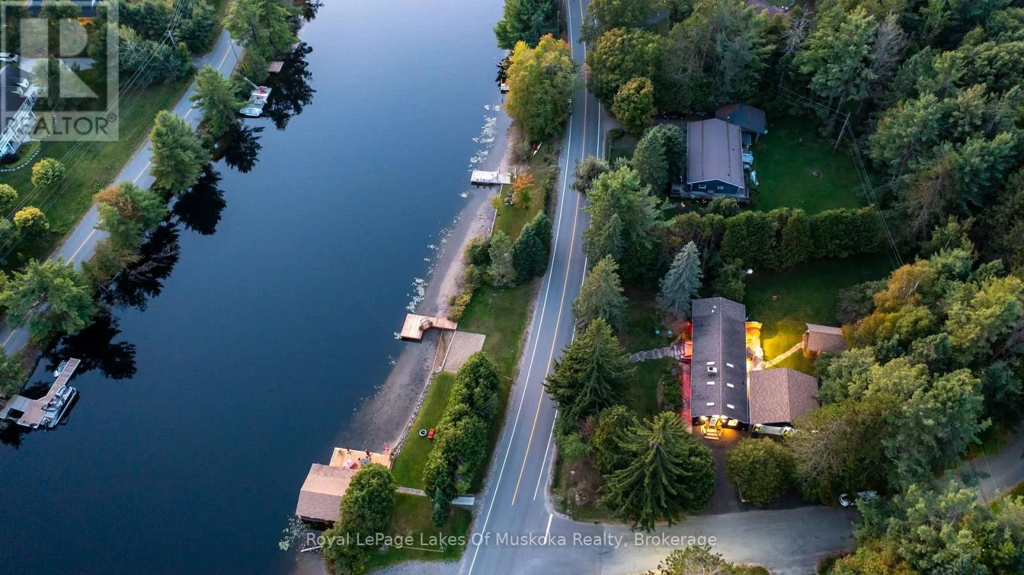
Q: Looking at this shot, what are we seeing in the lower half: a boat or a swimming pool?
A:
boat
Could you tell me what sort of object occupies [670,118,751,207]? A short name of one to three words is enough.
house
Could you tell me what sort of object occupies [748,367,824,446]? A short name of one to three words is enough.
building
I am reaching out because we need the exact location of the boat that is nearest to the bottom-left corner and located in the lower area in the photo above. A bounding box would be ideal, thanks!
[42,387,84,430]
